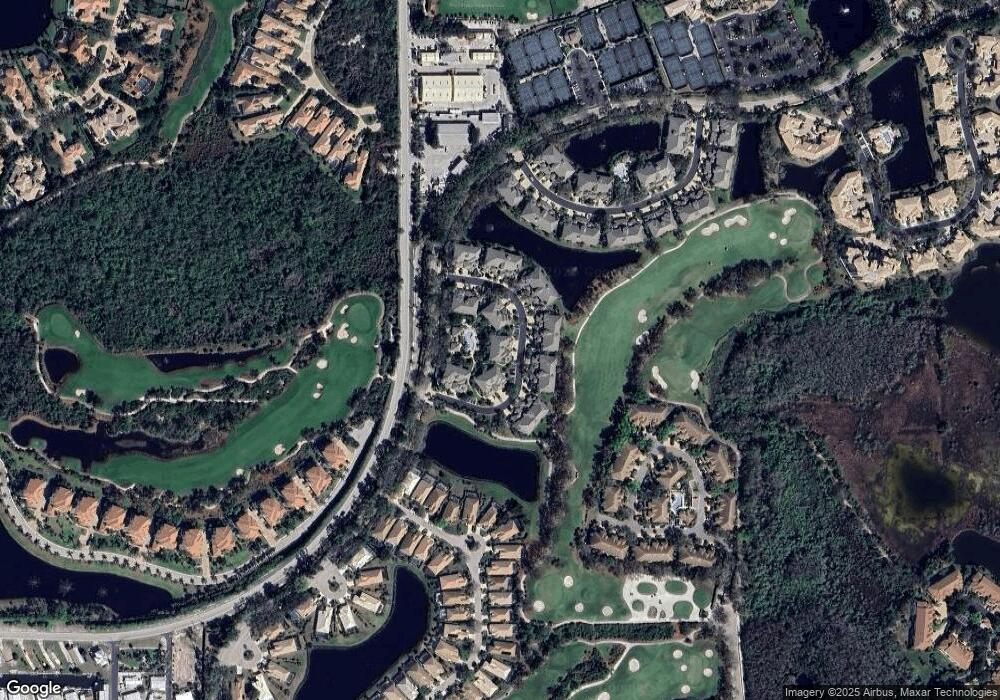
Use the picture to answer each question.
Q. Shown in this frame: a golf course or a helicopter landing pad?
golf course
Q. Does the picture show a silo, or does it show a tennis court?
tennis court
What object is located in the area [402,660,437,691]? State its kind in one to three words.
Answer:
house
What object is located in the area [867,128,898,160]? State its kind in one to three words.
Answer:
building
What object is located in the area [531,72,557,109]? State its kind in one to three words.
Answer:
tennis court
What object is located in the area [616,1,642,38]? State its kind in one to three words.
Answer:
tennis court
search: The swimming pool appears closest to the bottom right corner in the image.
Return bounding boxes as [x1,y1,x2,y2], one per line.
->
[669,490,686,514]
